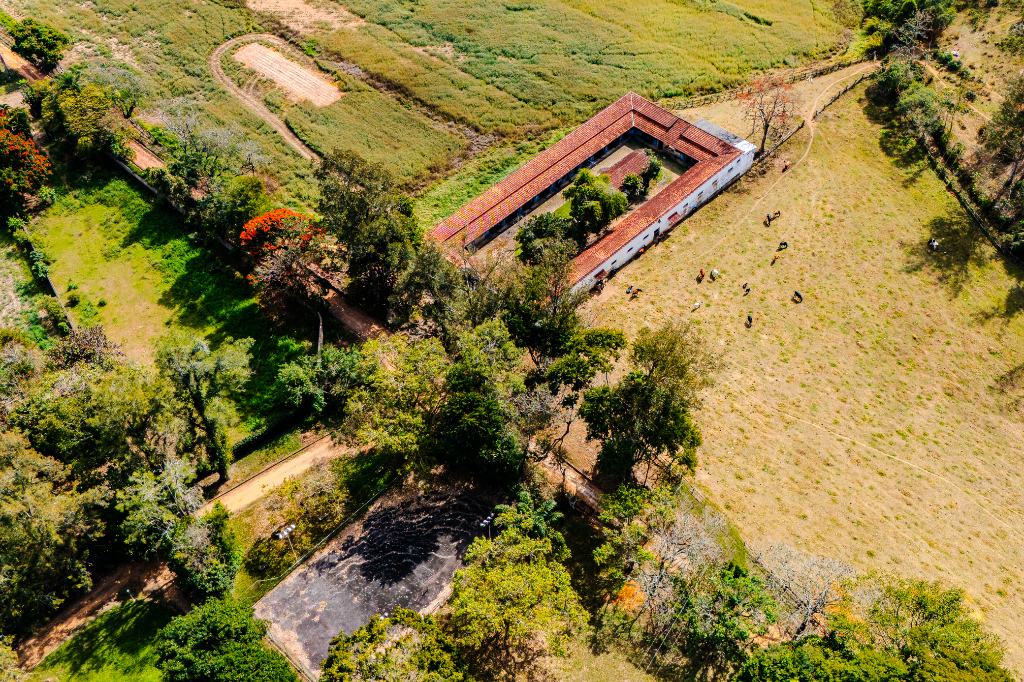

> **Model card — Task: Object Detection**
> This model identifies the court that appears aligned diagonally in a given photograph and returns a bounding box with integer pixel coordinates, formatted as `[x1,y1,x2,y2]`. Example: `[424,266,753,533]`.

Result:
[251,443,526,682]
